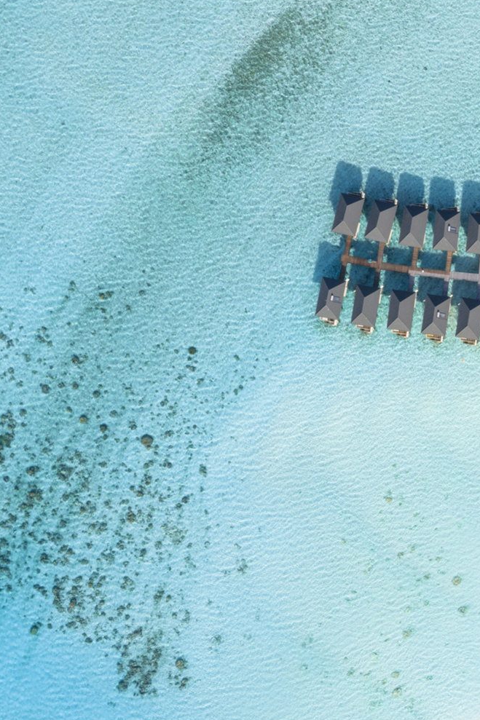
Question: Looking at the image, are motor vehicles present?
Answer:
No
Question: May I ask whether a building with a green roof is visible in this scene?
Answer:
No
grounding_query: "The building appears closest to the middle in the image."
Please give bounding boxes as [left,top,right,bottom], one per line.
[316,276,351,326]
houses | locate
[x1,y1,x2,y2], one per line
[388,289,420,338]
[316,276,351,326]
[456,298,480,346]
[399,200,432,249]
[421,293,454,341]
[351,284,384,333]
[466,209,480,254]
[332,190,370,239]
[365,196,403,245]
[433,204,463,253]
